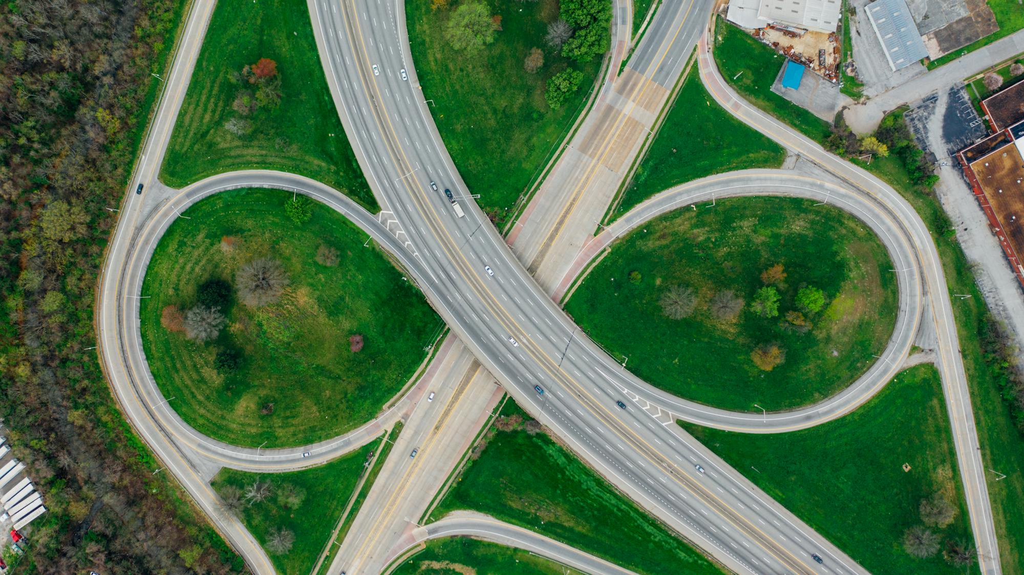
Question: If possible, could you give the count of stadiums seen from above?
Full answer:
There are no stadiums in the image.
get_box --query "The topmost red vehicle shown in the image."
[9,532,25,545]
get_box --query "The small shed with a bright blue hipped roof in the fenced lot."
[779,60,805,92]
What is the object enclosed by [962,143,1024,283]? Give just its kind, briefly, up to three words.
building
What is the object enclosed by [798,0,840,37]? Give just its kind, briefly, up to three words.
building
